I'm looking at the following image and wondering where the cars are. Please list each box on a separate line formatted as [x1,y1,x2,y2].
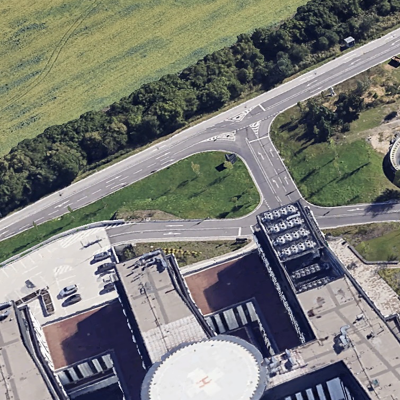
[63,295,81,305]
[96,265,113,273]
[93,253,110,260]
[99,285,115,293]
[60,286,78,295]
